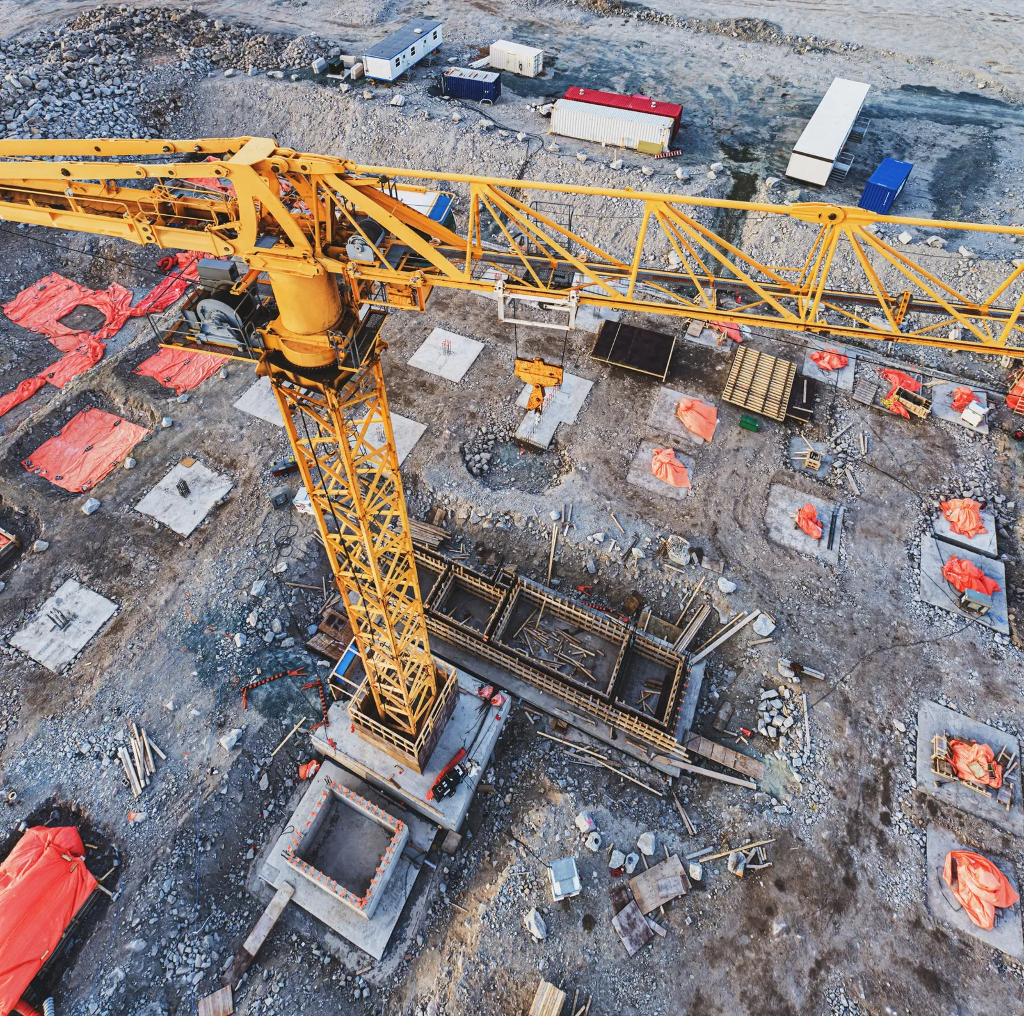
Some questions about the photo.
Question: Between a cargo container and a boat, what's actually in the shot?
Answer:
cargo container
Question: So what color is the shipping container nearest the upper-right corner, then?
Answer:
blue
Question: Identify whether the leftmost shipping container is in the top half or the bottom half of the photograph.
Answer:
top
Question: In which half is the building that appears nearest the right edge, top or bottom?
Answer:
top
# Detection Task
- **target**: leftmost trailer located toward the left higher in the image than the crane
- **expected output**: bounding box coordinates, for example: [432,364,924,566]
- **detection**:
[360,15,449,86]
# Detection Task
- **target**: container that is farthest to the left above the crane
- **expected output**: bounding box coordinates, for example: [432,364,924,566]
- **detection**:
[445,60,505,104]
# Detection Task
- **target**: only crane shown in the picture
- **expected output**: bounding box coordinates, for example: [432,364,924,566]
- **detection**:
[0,130,1024,738]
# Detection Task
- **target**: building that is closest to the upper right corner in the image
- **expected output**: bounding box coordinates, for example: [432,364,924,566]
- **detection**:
[787,74,881,189]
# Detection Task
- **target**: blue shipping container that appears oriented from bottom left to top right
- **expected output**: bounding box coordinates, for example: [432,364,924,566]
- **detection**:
[859,152,917,213]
